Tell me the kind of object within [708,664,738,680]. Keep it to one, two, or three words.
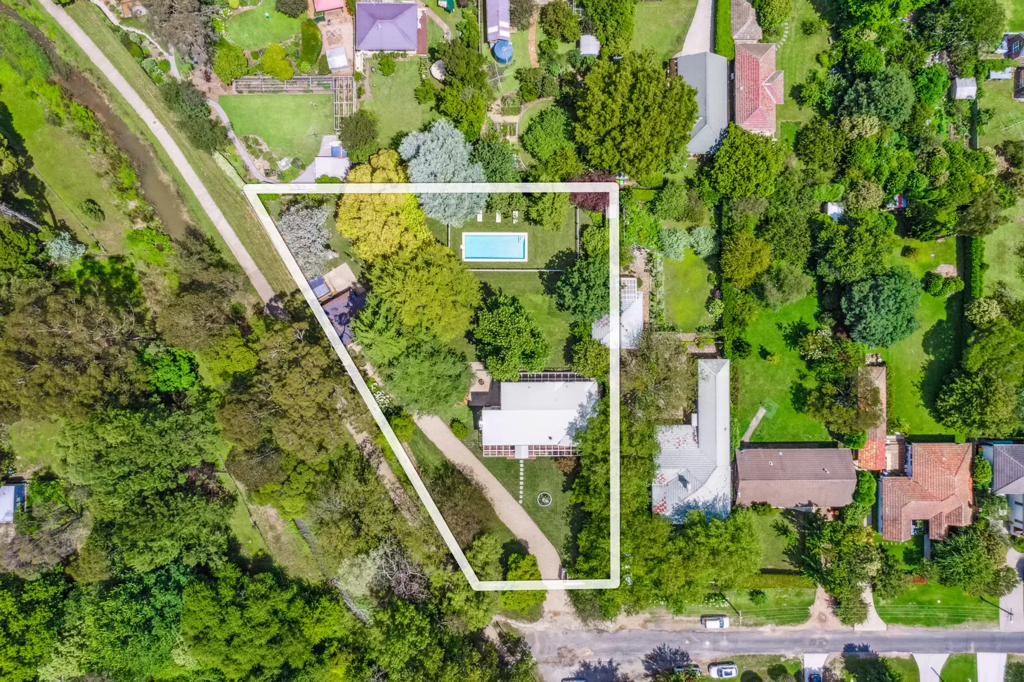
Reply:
car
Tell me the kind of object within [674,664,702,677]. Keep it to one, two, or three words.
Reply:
vehicle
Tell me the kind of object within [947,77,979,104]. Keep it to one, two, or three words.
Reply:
shed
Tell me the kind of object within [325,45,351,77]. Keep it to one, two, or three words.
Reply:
shed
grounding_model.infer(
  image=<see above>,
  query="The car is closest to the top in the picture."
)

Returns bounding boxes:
[700,616,730,631]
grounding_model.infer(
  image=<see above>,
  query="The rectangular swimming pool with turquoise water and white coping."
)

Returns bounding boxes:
[459,232,528,262]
